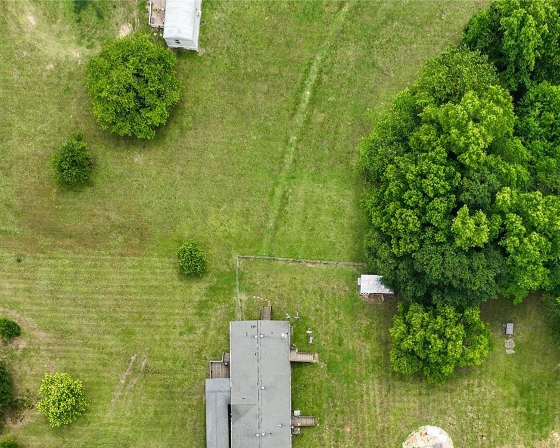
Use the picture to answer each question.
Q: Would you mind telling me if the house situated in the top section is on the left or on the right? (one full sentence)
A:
The house situated in the top section sits on the left side.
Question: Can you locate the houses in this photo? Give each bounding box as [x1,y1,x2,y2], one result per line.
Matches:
[148,0,201,50]
[206,306,316,448]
